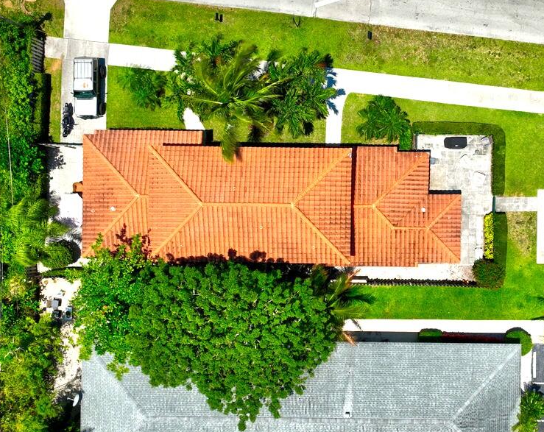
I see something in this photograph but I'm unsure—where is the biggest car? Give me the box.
[67,54,104,121]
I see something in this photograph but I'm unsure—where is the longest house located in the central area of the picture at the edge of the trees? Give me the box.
[72,130,463,268]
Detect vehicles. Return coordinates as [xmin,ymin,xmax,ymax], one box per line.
[67,54,104,121]
[55,102,71,136]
